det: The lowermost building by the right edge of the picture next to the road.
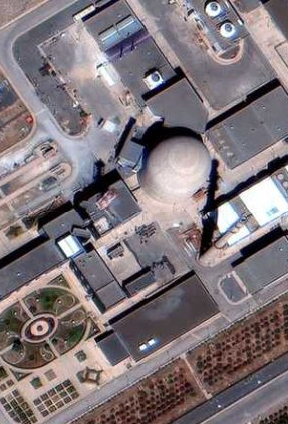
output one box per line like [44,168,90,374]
[227,235,288,300]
